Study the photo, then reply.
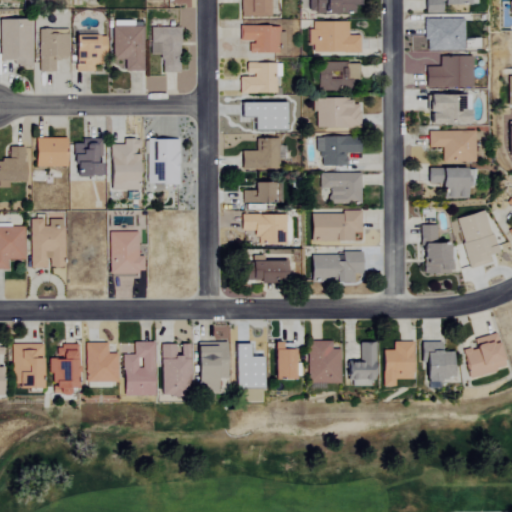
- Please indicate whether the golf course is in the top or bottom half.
bottom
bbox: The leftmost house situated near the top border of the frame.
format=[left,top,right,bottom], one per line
[1,18,34,69]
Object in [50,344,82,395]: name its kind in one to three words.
house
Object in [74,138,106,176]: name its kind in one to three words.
house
